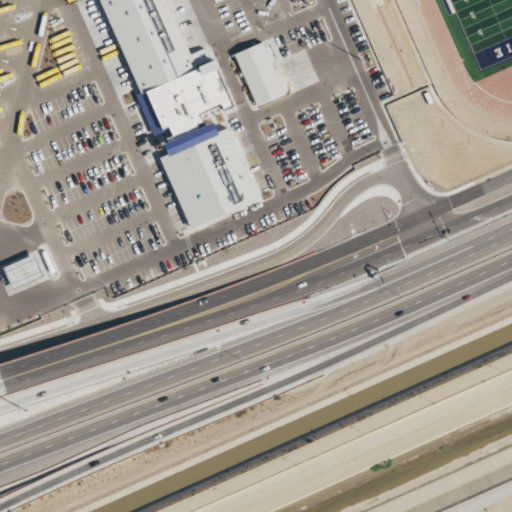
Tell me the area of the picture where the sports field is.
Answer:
top right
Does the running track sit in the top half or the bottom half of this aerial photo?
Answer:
top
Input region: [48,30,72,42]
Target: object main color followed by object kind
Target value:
yellow vehicle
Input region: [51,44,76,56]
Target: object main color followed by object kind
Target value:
yellow vehicle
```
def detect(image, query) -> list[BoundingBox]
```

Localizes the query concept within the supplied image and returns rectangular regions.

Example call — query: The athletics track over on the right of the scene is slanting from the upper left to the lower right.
[419,0,512,122]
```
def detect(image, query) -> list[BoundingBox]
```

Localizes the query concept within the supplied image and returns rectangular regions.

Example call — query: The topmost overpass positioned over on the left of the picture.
[0,252,318,398]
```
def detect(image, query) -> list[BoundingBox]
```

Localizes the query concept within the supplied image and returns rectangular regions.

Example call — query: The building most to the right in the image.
[233,42,286,108]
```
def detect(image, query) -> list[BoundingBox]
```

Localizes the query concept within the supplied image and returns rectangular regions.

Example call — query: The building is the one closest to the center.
[160,126,260,228]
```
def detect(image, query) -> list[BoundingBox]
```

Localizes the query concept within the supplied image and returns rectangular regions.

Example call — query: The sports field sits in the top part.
[436,0,512,82]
